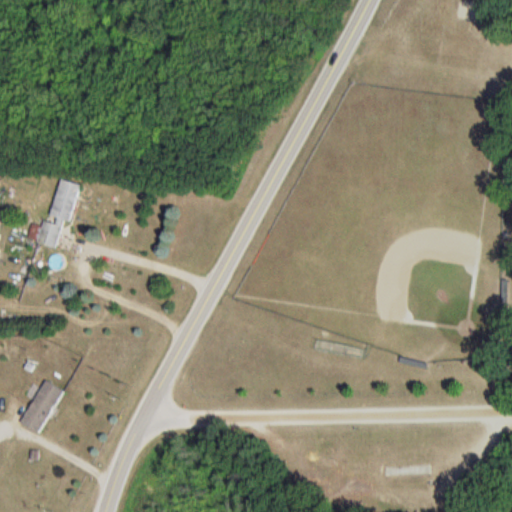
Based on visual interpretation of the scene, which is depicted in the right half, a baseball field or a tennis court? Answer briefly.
baseball field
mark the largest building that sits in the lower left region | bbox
[21,381,64,432]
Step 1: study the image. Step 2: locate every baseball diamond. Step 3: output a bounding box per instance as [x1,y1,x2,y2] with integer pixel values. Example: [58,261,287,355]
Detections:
[236,83,501,362]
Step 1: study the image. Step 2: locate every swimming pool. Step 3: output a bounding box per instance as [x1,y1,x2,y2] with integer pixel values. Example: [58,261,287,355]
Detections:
[48,254,66,270]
